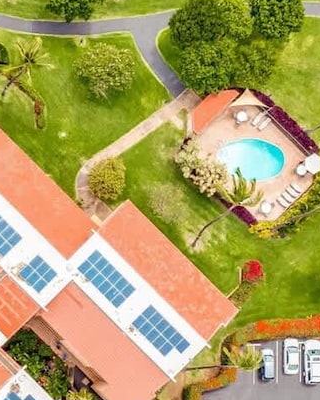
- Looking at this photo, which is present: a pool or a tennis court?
pool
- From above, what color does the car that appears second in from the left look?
white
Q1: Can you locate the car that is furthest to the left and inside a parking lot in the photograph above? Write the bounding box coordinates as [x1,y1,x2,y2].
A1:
[257,347,276,380]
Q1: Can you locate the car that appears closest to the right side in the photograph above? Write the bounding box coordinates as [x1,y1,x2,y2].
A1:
[301,341,320,383]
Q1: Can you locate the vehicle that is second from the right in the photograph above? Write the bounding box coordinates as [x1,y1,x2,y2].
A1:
[280,337,300,374]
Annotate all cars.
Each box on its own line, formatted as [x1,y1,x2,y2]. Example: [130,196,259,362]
[280,337,300,374]
[301,341,320,383]
[257,347,276,380]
